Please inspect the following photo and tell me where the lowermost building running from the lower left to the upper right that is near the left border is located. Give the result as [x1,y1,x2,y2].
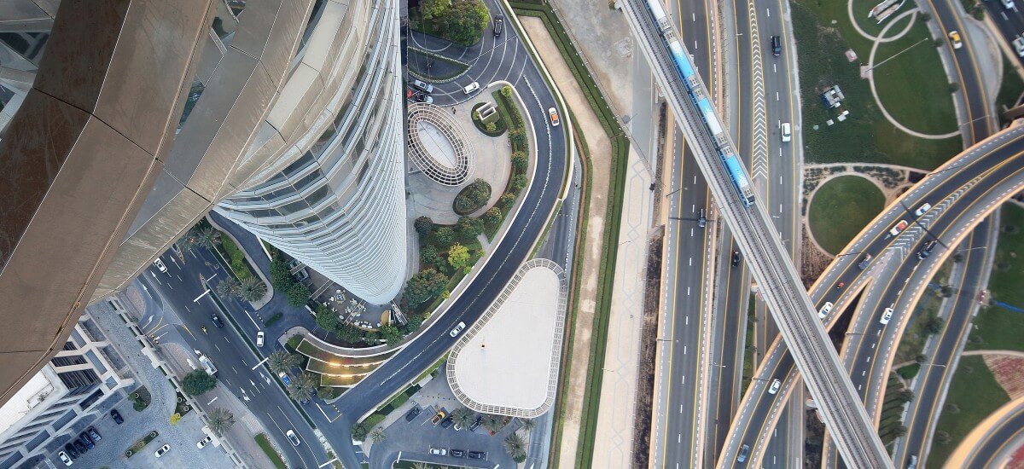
[0,316,148,467]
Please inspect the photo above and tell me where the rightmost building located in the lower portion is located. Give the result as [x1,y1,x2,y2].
[446,258,567,417]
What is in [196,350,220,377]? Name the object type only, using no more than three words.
truck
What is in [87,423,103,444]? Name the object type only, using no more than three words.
car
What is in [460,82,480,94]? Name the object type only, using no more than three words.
vehicle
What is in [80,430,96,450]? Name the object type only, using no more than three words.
car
